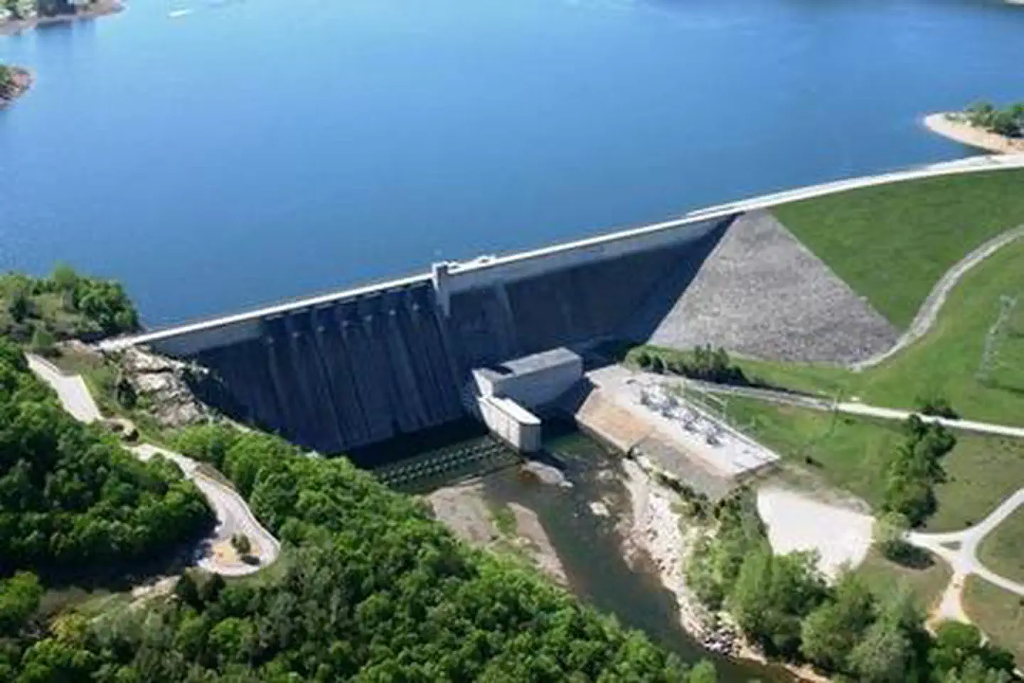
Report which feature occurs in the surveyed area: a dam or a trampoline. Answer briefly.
dam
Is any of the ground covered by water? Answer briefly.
Yes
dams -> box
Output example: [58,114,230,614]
[90,201,771,460]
